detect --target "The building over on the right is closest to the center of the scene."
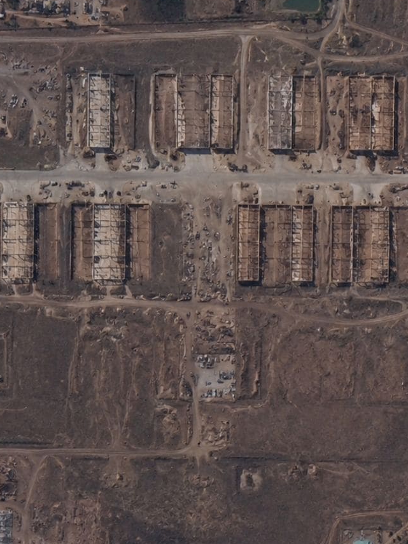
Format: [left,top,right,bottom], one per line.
[237,205,259,281]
